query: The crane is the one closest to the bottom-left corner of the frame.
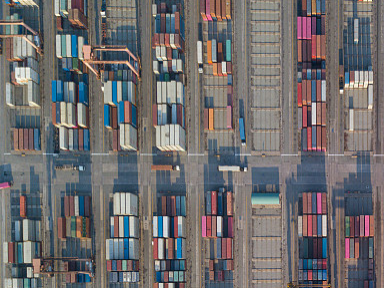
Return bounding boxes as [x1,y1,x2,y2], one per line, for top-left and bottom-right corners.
[28,256,99,277]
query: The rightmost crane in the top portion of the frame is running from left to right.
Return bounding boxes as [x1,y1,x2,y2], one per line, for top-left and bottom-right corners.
[80,46,146,77]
